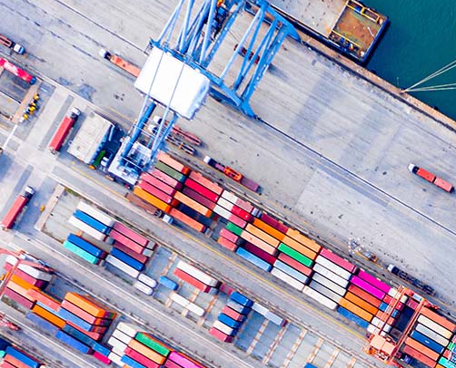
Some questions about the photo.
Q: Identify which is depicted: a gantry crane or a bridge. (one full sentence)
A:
There is a gantry crane in the scene.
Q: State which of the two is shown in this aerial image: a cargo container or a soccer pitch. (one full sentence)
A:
The one in the frame is a cargo container.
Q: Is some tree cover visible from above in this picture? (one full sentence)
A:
No, there's no tree cover in this view.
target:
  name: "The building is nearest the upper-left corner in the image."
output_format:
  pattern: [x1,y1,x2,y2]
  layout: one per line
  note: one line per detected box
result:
[67,112,124,168]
